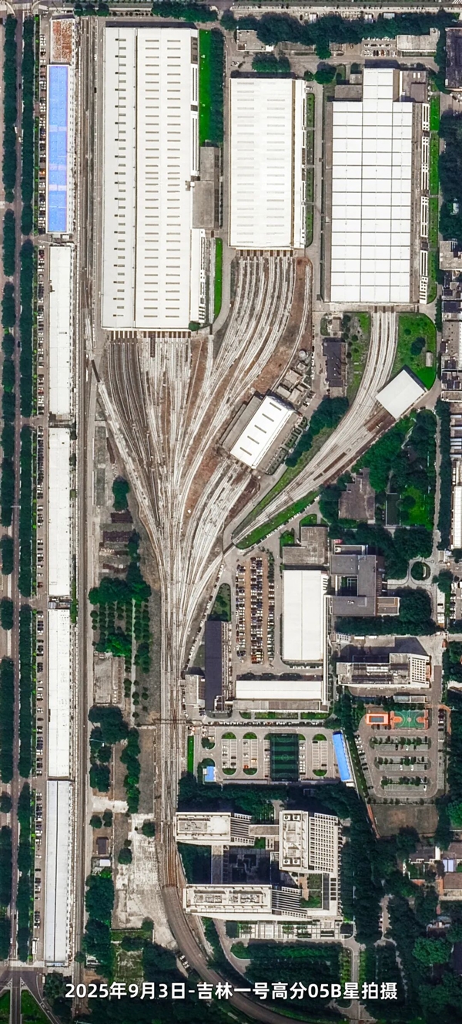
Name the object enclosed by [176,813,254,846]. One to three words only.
building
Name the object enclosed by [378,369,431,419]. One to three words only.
shed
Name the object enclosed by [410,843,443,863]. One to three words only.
house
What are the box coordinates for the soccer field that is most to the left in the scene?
[268,733,299,780]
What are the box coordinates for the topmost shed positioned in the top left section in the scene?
[50,19,76,64]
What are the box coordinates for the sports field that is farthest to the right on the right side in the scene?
[373,804,438,835]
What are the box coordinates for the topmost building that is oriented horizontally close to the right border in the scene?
[397,28,443,51]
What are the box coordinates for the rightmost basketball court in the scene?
[391,710,429,729]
